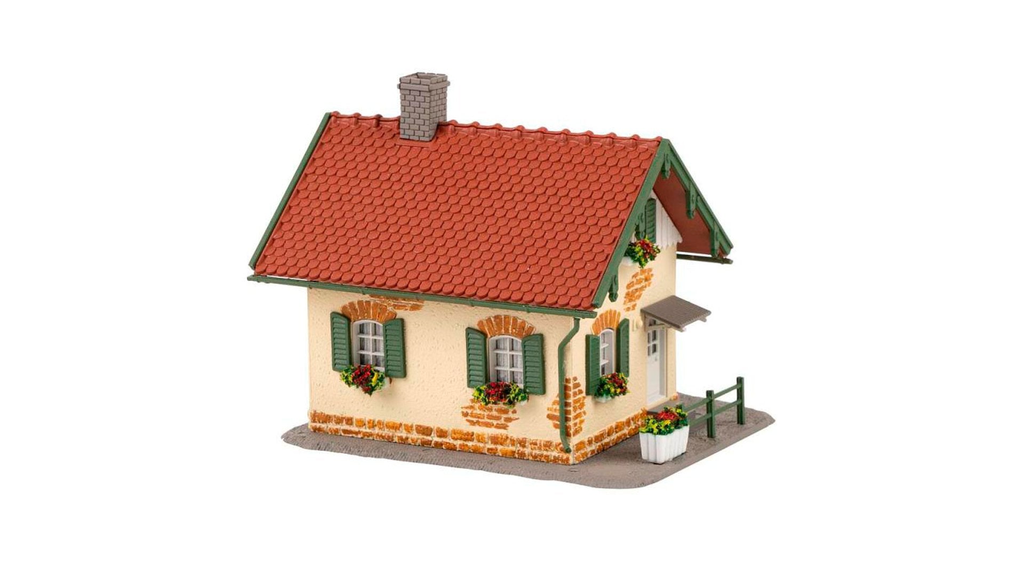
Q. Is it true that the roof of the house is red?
Yes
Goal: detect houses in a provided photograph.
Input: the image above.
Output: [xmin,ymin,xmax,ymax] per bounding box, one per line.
[246,74,738,466]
